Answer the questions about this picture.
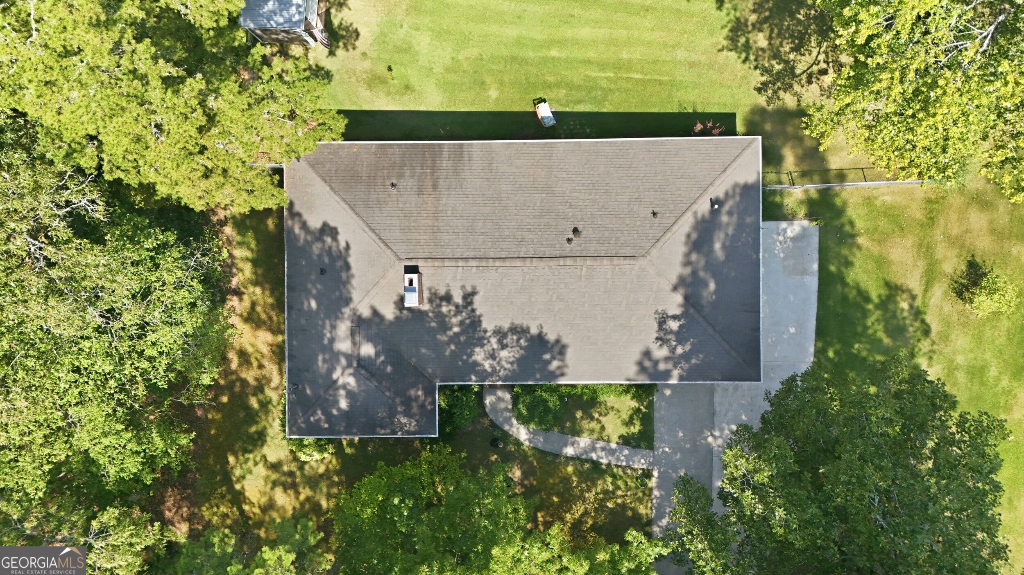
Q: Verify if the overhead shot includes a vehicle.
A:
No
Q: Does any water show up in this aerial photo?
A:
No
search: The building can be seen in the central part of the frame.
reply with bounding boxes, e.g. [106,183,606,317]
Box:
[282,134,764,440]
